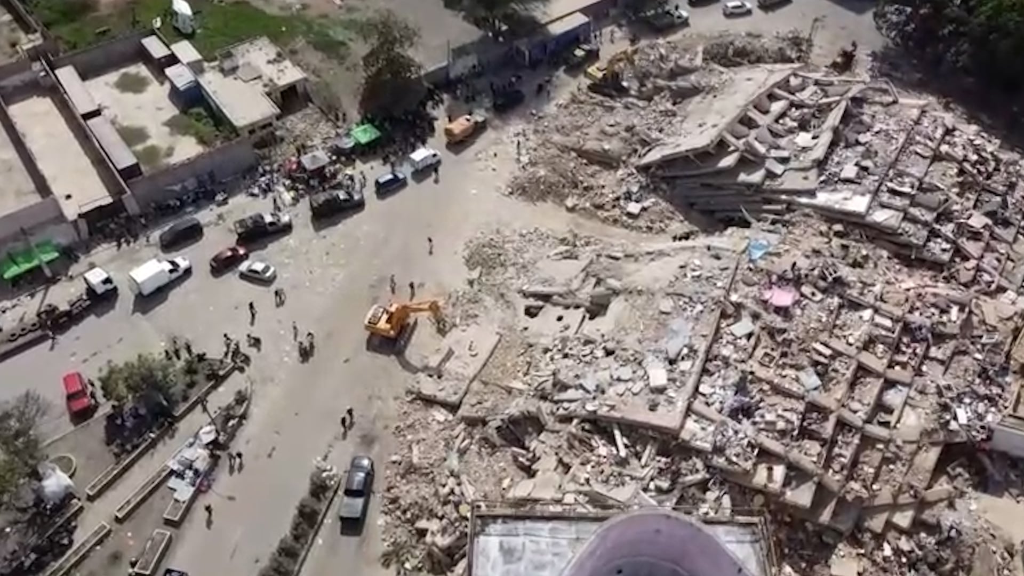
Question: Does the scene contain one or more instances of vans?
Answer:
Yes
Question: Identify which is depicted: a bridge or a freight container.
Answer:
freight container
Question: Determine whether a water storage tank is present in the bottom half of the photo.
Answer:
No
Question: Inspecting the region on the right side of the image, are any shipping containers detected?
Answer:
No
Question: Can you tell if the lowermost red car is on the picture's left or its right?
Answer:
left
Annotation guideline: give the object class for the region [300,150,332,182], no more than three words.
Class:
tent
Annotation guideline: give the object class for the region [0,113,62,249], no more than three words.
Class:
building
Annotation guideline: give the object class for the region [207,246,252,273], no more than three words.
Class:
car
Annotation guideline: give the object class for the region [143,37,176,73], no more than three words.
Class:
shipping container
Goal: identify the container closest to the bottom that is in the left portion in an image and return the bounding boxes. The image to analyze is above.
[87,116,147,184]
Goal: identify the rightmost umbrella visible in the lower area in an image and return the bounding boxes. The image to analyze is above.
[199,425,219,445]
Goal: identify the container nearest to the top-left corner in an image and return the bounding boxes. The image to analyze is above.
[55,65,103,127]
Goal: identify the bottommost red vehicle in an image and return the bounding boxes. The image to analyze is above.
[60,371,95,419]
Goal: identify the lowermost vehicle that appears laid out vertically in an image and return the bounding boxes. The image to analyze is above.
[342,458,372,520]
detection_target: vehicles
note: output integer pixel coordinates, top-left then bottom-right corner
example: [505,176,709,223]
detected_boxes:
[372,172,411,195]
[146,562,204,576]
[123,251,196,294]
[405,142,445,170]
[562,37,604,68]
[720,1,754,17]
[236,262,280,284]
[642,8,691,36]
[207,246,252,273]
[441,105,491,144]
[362,314,445,353]
[60,371,95,419]
[0,276,119,355]
[342,458,372,520]
[305,184,368,220]
[584,46,633,101]
[230,209,294,246]
[157,221,208,253]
